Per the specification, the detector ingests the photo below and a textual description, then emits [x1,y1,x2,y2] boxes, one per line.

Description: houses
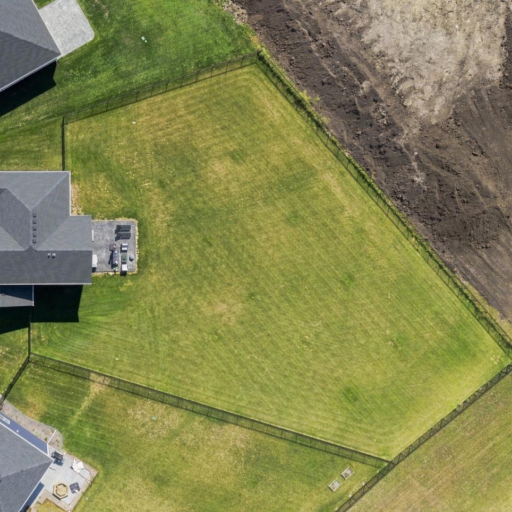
[0,0,63,92]
[0,413,56,512]
[0,170,98,307]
